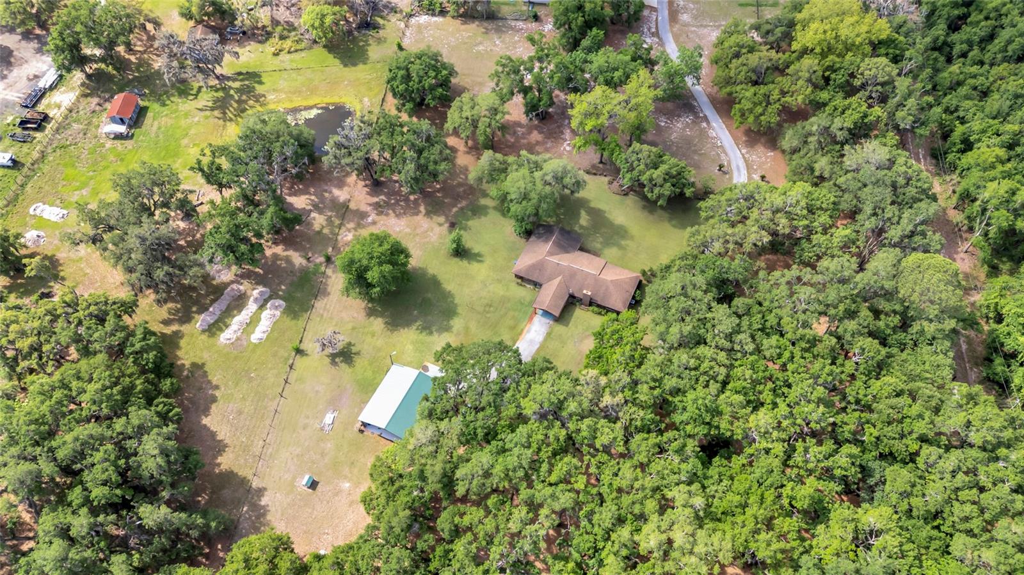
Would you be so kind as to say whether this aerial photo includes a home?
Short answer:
Yes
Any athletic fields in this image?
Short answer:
No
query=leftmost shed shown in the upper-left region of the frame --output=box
[104,90,143,132]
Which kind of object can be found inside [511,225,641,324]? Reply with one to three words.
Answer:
house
